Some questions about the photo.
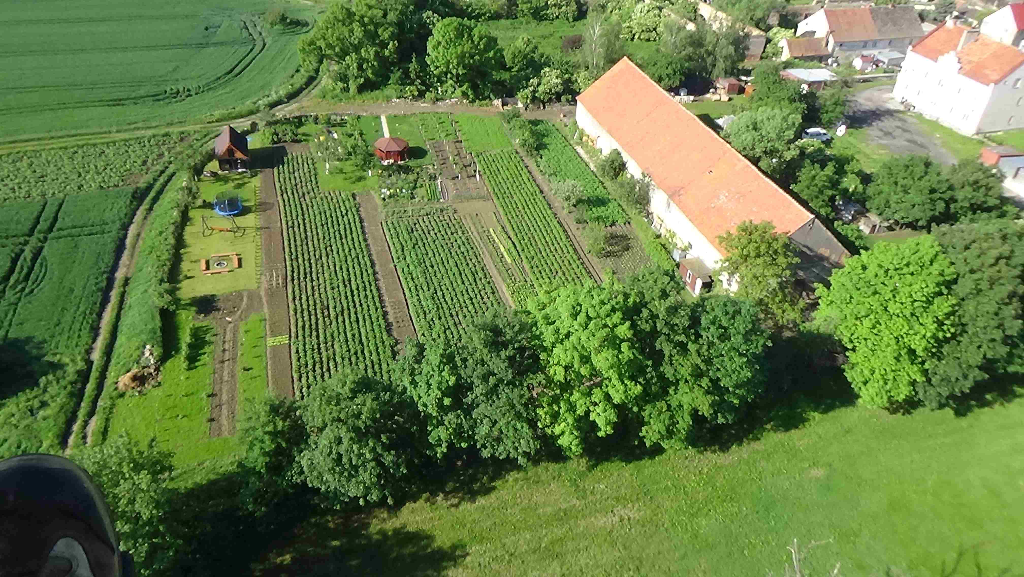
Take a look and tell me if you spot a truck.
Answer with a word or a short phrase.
No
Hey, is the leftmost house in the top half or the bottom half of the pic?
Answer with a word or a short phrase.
top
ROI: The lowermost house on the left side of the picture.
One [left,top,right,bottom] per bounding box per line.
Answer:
[214,121,253,173]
